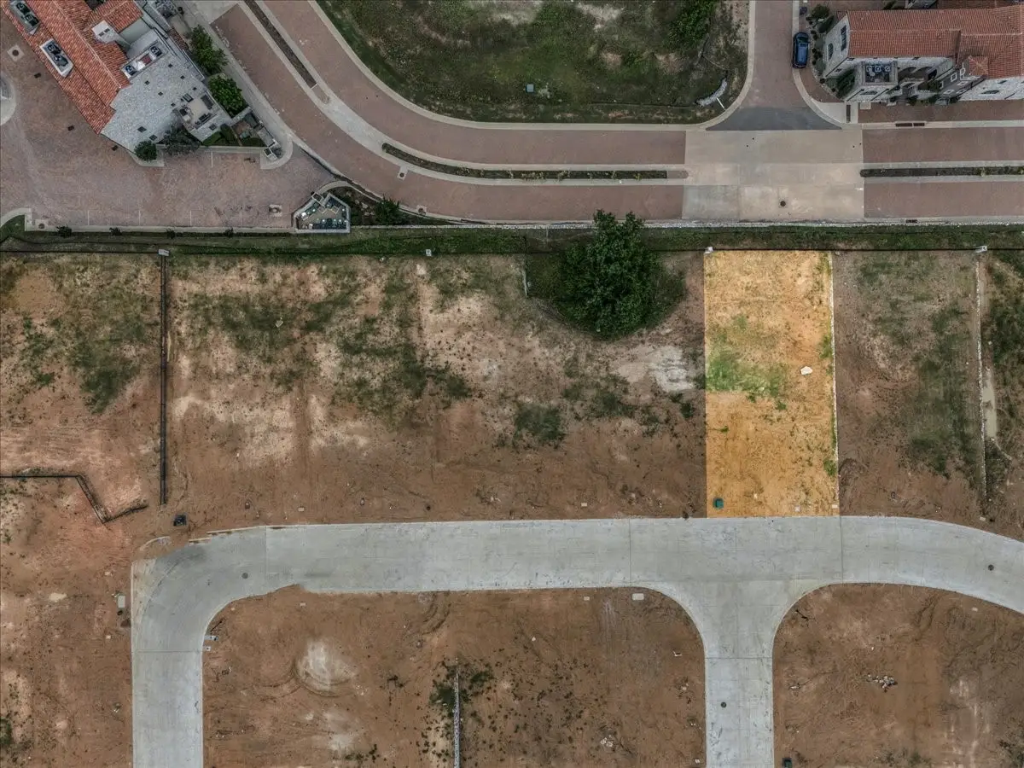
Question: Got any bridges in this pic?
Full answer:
No, there isn't any bridge down there.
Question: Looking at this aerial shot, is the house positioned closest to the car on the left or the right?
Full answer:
The house positioned closest to the car sits on the right side.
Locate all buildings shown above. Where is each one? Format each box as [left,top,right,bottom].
[0,0,240,159]
[826,4,1024,100]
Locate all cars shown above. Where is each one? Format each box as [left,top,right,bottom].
[793,29,812,66]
